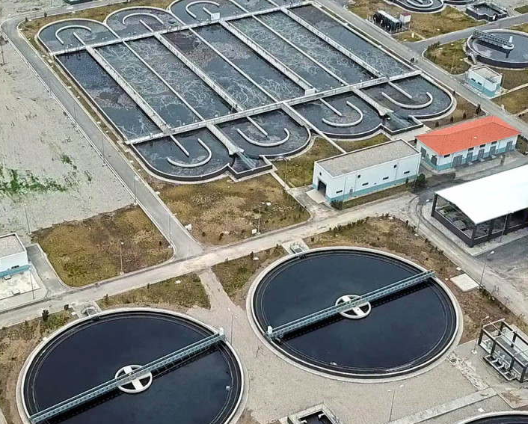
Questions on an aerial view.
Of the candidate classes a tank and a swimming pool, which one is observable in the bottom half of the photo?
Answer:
tank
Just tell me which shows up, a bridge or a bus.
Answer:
bridge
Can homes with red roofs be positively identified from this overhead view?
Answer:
Yes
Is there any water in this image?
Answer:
Yes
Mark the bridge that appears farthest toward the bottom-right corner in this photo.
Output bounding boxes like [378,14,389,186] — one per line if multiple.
[262,272,438,341]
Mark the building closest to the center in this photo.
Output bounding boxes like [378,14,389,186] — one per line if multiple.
[313,139,422,203]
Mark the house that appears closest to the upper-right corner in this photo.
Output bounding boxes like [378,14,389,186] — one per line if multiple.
[467,67,507,96]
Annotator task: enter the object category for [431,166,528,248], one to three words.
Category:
shed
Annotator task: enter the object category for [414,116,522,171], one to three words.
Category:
house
